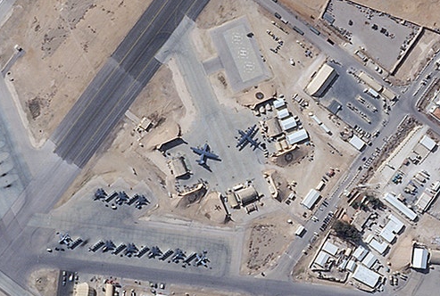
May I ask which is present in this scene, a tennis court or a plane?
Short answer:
plane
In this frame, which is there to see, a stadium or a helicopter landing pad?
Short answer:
helicopter landing pad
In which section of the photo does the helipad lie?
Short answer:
top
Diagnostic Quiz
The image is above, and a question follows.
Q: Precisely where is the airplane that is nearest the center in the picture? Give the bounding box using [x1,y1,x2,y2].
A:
[193,145,218,166]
